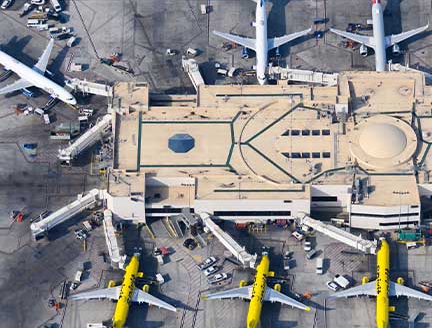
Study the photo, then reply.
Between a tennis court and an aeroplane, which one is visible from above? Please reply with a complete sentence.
This aerial view contains an aeroplane.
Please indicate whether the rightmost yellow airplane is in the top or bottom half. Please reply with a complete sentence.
The rightmost yellow airplane sits in the bottom half of the picture.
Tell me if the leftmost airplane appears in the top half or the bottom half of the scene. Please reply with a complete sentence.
The leftmost airplane is in the top half of the image.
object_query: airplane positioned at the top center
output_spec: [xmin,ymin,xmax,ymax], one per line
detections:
[212,0,312,84]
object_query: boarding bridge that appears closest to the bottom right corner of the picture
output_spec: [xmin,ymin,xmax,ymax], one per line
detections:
[299,212,384,258]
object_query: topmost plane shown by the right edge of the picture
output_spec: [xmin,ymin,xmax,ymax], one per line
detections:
[327,0,430,71]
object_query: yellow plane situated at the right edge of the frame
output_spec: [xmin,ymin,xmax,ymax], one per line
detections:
[326,239,432,328]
